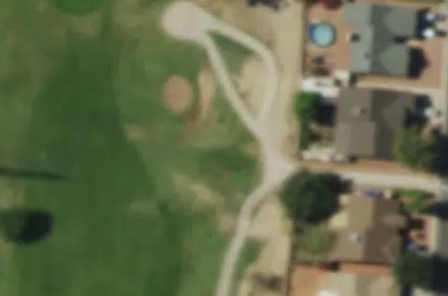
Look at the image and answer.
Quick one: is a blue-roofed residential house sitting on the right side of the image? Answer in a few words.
No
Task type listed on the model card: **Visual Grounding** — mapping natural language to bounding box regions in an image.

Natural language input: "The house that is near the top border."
[341,2,417,75]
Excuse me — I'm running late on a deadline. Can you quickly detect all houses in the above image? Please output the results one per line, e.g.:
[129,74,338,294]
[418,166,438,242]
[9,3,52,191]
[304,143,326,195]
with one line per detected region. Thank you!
[317,272,398,296]
[338,90,415,158]
[341,2,417,75]
[332,196,405,263]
